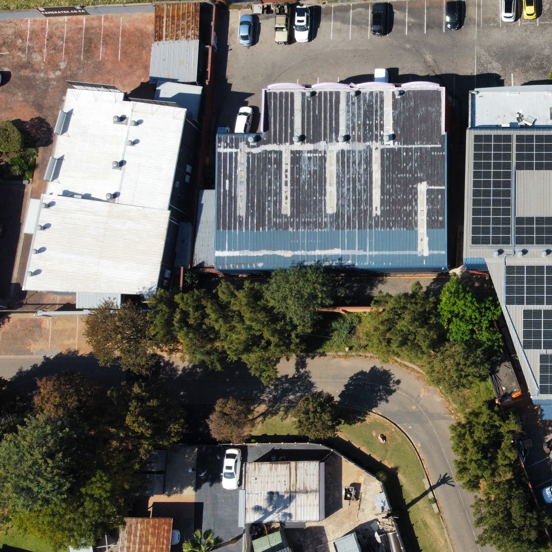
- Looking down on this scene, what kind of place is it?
industrial area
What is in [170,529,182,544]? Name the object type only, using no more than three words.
vehicle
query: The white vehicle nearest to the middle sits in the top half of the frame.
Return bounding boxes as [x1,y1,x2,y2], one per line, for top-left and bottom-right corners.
[234,105,255,133]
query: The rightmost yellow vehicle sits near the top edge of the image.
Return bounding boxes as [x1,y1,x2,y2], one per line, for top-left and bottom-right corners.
[522,0,537,21]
